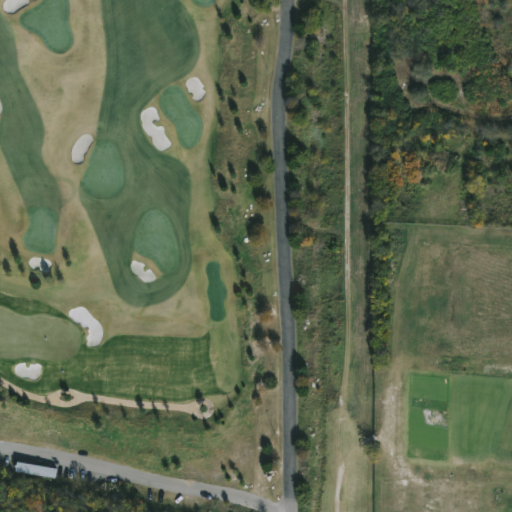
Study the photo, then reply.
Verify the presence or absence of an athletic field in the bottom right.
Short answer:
Yes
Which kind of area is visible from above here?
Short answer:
golf course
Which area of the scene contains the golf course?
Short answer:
left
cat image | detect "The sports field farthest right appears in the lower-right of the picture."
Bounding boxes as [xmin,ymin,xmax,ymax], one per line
[450,364,512,471]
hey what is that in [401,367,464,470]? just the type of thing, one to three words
sports field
